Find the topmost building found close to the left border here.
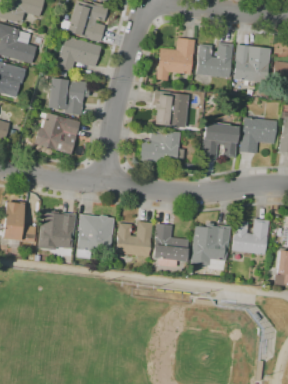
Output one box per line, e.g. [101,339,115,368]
[0,0,46,26]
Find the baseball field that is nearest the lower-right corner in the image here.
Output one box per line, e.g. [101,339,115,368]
[148,304,260,384]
